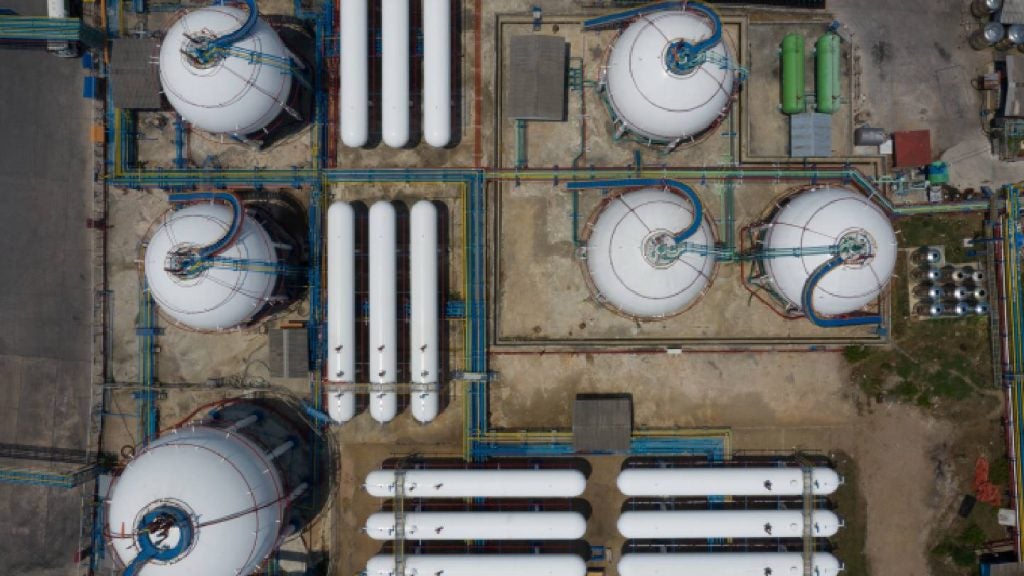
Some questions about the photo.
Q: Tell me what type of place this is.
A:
industrial area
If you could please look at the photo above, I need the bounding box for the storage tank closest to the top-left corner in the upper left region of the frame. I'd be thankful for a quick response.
[155,0,317,149]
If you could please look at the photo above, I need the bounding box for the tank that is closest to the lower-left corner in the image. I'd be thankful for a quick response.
[106,410,309,576]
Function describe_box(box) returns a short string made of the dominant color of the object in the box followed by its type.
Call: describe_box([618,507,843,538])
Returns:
white storage tank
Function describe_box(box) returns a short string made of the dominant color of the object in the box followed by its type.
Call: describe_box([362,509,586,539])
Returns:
white storage tank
